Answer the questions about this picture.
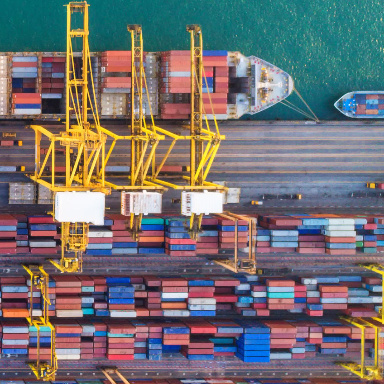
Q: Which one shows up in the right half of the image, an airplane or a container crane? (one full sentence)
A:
You can see a container crane in the right half of the image.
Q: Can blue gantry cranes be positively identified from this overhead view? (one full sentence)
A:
No, the scene contains no blue gantry crane.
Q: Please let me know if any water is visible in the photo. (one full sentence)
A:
Yes, water shows up in the scene.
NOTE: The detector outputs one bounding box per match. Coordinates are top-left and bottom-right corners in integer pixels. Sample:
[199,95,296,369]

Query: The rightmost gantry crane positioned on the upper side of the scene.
[143,23,227,243]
